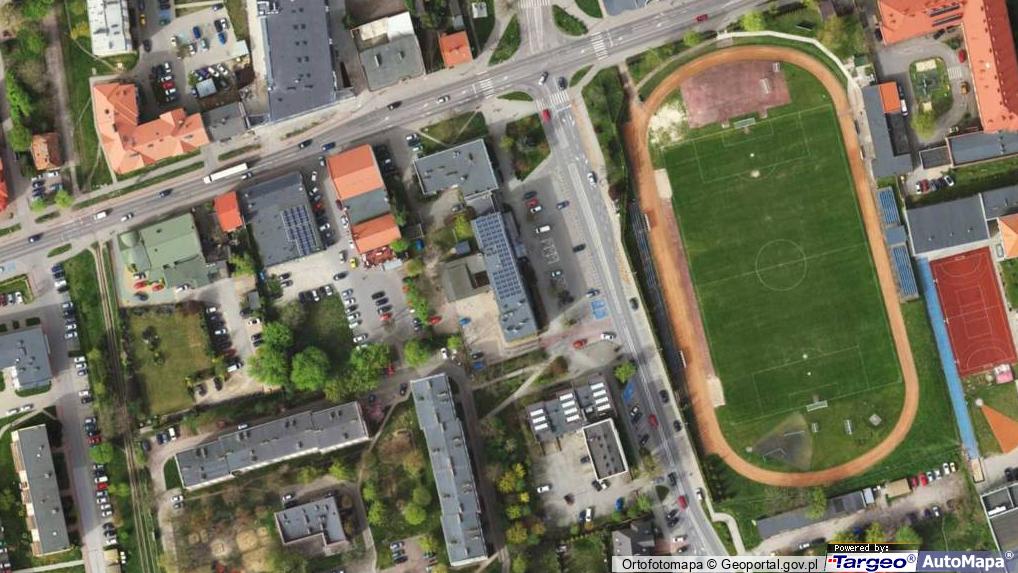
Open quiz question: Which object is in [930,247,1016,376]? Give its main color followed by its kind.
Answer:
red sports court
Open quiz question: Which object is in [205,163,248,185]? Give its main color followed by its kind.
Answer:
white truck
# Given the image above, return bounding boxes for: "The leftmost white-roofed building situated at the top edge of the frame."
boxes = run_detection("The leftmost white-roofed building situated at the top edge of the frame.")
[87,0,132,58]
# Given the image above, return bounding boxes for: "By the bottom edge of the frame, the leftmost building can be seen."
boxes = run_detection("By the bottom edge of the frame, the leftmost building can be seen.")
[14,424,72,556]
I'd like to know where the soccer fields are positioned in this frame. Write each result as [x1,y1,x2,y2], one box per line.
[661,101,903,427]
